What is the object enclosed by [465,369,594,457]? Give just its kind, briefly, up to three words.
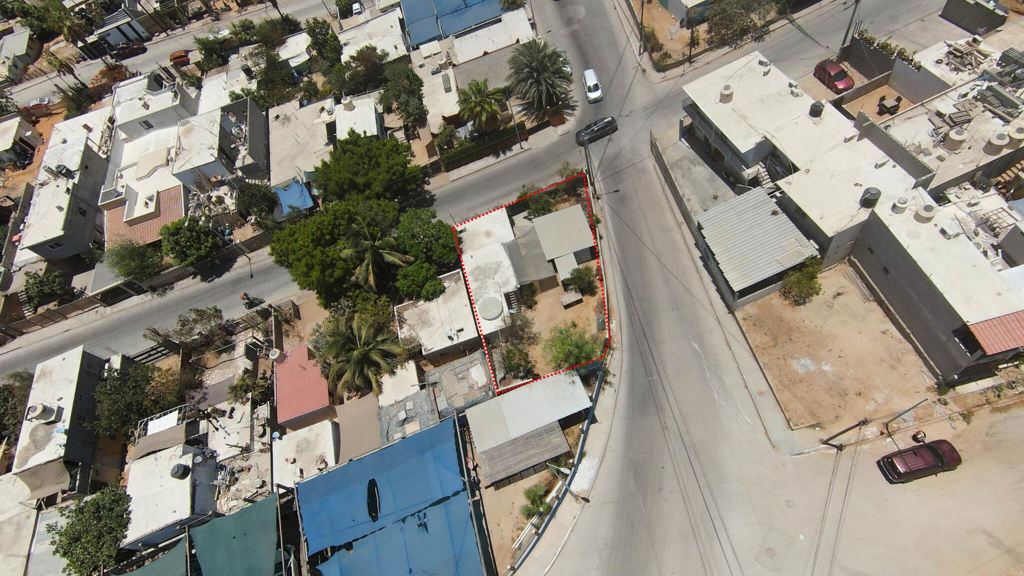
shed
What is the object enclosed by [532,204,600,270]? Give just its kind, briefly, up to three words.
shed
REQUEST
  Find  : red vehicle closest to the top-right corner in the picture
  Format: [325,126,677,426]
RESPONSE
[808,58,858,96]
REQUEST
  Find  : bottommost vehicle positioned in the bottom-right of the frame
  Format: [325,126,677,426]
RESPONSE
[876,440,963,483]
